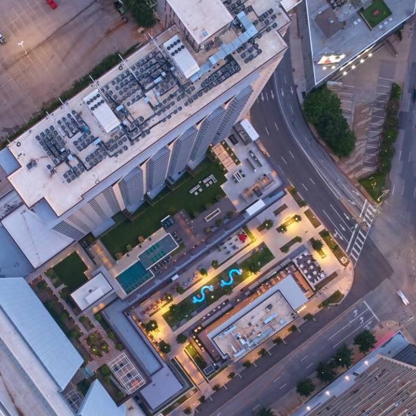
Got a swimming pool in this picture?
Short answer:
Yes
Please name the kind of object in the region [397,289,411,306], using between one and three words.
vehicle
